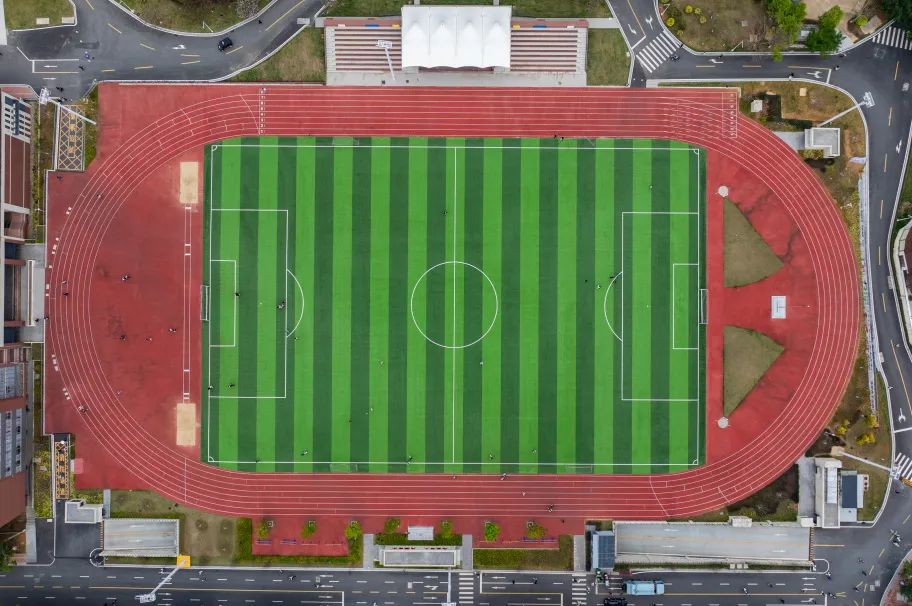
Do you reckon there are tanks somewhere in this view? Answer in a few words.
No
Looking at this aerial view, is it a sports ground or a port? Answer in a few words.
sports ground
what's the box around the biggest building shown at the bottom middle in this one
[379,545,461,566]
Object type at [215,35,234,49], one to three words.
car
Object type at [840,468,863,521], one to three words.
shed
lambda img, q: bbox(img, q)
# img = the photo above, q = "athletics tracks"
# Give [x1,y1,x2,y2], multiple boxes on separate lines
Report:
[45,84,862,556]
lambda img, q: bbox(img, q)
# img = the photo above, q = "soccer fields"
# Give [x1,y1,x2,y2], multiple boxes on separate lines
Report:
[202,135,707,475]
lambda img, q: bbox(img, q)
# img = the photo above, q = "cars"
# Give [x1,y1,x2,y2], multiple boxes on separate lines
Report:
[215,35,234,49]
[605,598,628,606]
